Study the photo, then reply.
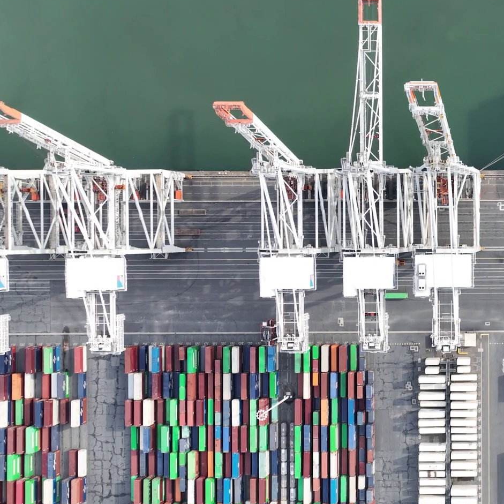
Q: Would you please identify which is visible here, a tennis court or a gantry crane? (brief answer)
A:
gantry crane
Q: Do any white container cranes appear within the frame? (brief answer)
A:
Yes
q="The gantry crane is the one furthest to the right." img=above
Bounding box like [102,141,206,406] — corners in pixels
[408,78,486,347]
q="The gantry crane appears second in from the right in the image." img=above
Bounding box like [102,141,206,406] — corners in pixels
[337,0,421,348]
